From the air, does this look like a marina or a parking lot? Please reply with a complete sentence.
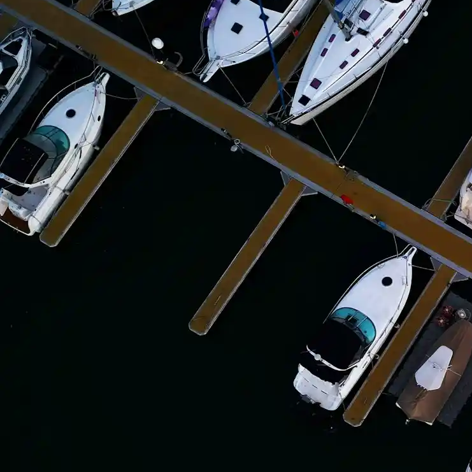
This looks like a marina.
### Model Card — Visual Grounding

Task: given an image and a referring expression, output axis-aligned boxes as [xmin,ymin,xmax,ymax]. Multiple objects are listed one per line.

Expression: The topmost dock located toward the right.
[246,0,333,119]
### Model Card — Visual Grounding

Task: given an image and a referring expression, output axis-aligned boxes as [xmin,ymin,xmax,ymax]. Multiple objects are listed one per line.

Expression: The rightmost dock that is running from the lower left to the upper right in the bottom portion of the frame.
[342,256,471,428]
